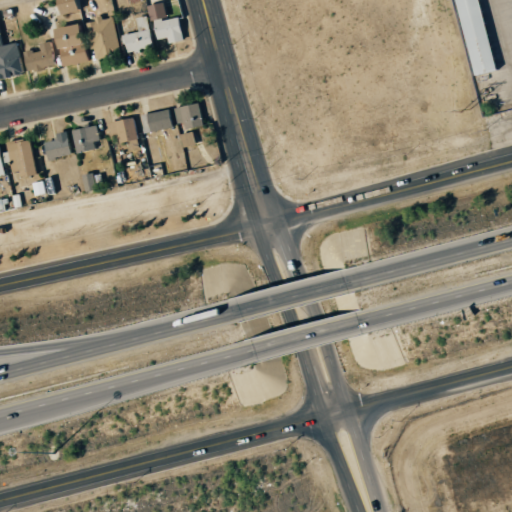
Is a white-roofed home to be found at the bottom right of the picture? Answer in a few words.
No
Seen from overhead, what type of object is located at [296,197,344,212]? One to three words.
vehicle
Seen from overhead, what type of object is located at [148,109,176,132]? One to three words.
house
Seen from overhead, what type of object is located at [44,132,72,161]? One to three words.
house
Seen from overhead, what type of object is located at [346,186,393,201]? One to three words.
vehicle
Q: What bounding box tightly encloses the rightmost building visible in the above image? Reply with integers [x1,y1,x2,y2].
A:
[454,0,498,76]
